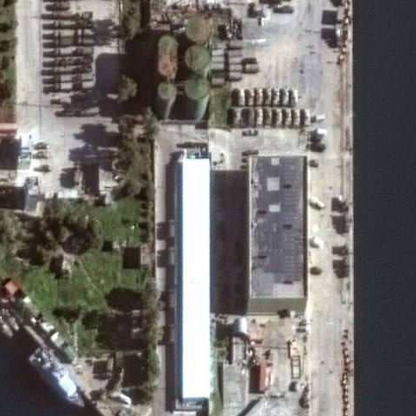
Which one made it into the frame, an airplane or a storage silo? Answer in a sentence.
Of the two, only a storage silo appears.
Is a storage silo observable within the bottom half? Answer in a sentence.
No, no storage silo can be made out within the bottom half.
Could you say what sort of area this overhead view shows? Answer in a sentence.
This looks like a port.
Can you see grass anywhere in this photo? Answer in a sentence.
Yes, grass can be seen from above here.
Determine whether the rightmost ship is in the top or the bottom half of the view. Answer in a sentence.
It is in the bottom half that the rightmost ship appears.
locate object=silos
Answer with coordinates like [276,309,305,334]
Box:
[155,82,177,117]
[182,15,211,52]
[155,62,177,92]
[182,77,211,118]
[155,35,178,67]
[182,45,211,83]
